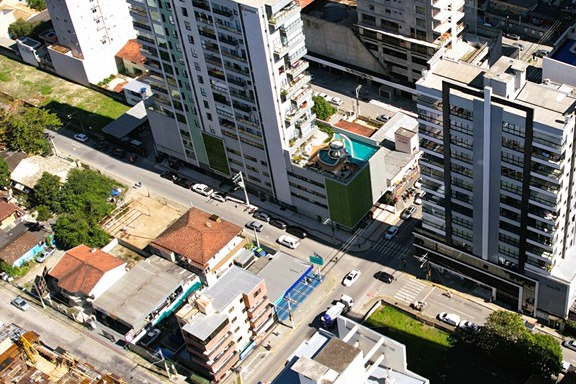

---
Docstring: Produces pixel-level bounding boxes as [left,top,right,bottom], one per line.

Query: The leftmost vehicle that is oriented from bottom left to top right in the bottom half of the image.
[32,245,60,264]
